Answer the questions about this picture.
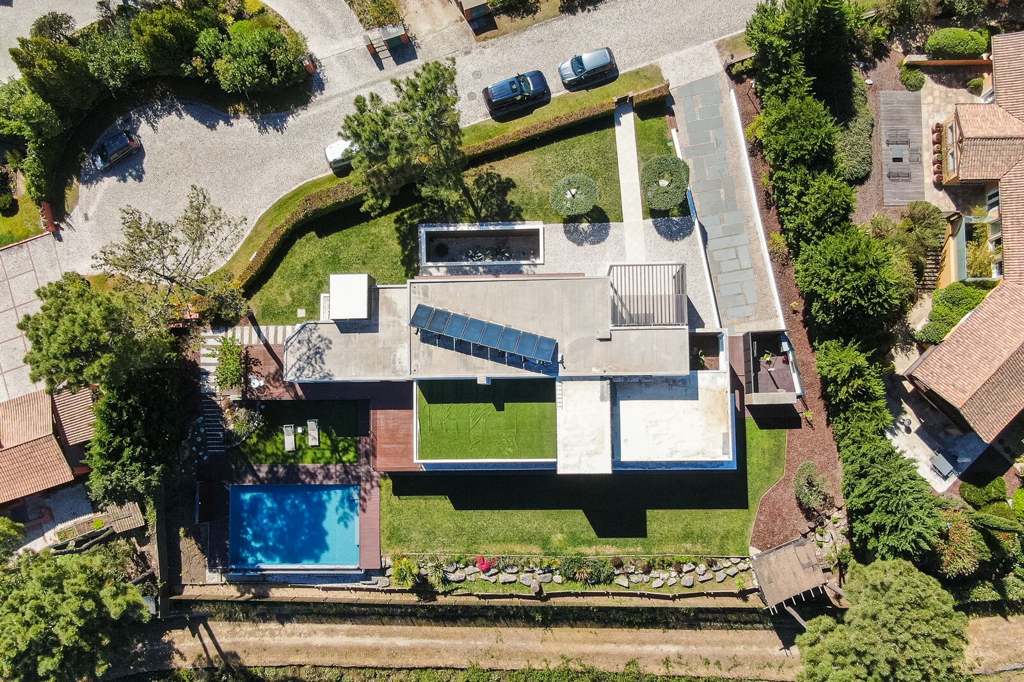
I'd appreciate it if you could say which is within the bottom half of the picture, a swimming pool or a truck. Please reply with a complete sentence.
The feature located within the bottom half of the picture is a swimming pool.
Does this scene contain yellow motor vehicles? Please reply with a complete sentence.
No, the picture doesn't show any yellow motor vehicle.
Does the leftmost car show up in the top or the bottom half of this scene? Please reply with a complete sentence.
It is in the top half that the leftmost car appears.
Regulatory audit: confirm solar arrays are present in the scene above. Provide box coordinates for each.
[410,305,555,364]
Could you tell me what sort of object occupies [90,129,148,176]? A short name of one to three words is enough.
car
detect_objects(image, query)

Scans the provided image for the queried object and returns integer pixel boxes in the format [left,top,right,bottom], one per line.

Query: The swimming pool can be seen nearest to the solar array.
[225,484,366,574]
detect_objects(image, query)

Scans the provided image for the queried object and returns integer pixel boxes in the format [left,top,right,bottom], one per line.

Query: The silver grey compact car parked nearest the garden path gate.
[555,47,620,90]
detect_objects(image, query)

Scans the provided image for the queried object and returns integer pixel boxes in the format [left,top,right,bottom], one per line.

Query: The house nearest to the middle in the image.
[283,273,737,474]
